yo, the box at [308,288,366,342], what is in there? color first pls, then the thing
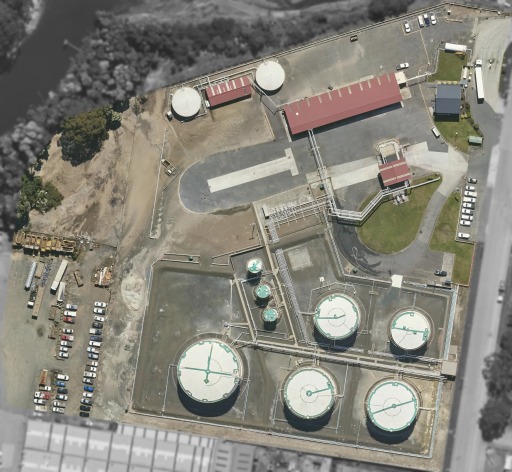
white storage tank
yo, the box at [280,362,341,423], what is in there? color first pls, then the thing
white storage tank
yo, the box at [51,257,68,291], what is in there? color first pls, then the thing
white vehicle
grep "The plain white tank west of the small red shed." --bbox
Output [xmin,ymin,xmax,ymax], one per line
[172,86,202,118]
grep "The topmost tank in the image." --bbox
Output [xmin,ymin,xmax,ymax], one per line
[256,61,286,92]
